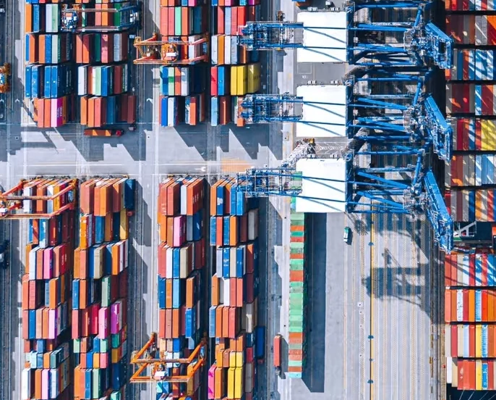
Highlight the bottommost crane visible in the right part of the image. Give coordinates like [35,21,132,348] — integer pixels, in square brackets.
[237,124,452,253]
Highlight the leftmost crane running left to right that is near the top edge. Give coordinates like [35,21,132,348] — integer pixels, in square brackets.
[55,0,139,36]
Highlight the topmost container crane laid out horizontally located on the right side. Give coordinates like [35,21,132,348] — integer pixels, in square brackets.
[237,0,452,75]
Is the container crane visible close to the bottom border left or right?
left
